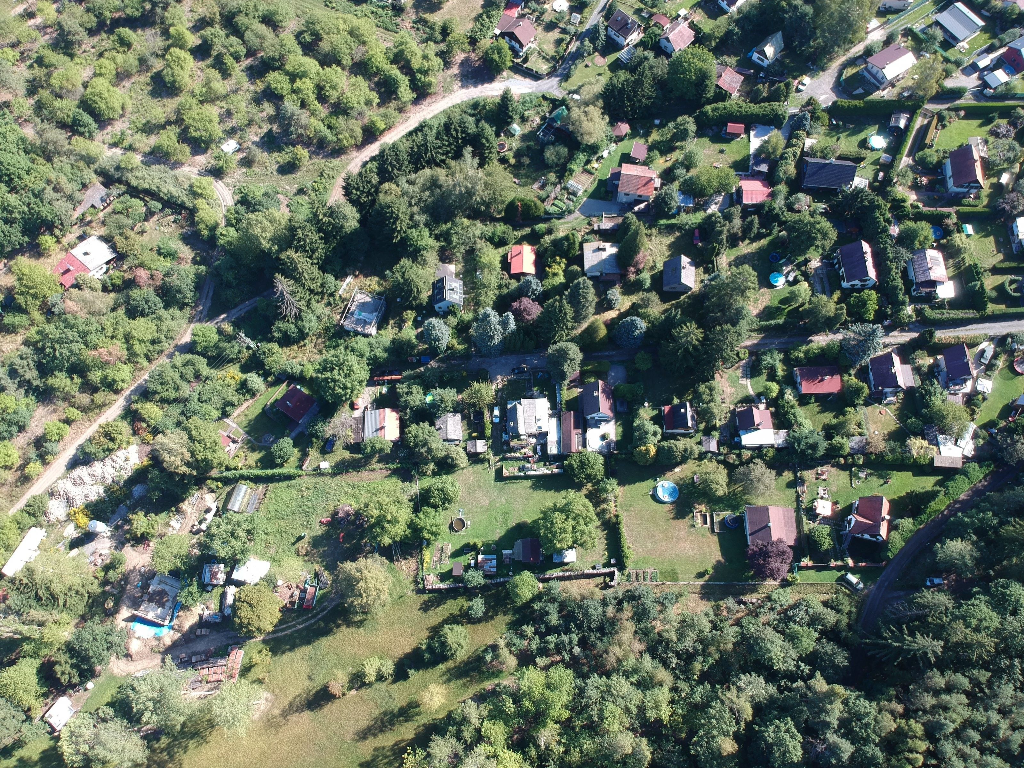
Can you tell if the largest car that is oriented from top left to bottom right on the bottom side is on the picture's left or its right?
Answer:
right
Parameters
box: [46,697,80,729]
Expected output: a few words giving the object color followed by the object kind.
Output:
white camper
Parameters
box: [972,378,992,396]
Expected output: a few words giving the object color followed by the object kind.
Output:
white gazebo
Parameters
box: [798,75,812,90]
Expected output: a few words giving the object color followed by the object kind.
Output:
white car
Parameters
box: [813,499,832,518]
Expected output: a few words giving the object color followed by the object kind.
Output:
white gazebo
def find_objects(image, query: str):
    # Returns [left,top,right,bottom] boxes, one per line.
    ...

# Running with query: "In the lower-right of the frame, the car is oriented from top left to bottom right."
[841,570,866,592]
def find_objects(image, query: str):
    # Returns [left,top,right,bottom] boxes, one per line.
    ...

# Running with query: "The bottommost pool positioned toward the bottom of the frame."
[447,514,469,537]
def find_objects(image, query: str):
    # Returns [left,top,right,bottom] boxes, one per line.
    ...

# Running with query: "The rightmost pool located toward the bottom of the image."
[656,481,678,504]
